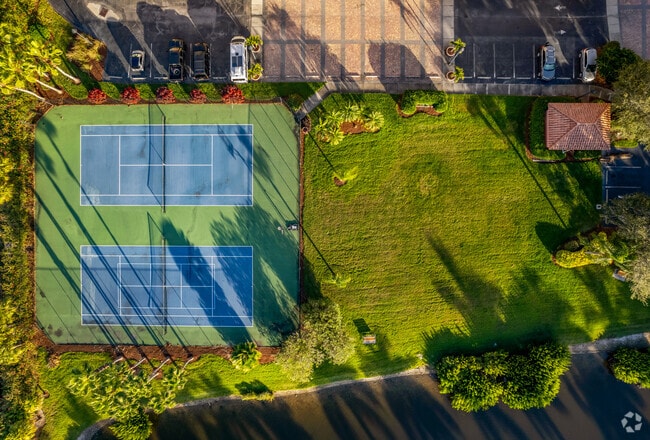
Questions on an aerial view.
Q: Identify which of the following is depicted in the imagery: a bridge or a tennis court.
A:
tennis court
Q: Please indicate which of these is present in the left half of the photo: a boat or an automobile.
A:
automobile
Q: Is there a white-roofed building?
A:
No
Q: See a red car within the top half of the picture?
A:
No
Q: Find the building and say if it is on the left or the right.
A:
right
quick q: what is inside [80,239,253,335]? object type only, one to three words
tennis court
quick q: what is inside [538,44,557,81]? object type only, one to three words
car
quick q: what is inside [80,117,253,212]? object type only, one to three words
tennis court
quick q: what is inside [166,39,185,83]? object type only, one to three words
vehicle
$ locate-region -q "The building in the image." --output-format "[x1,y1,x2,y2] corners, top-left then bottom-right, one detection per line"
[545,102,613,150]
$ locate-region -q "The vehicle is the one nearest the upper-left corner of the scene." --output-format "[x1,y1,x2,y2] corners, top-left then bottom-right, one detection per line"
[128,51,145,73]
